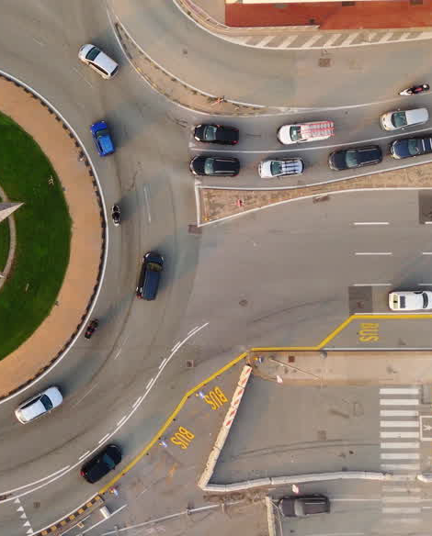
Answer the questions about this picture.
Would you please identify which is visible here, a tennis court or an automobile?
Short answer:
automobile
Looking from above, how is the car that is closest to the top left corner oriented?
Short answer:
diagonally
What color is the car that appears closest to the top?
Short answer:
white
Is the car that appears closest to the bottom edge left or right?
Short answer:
right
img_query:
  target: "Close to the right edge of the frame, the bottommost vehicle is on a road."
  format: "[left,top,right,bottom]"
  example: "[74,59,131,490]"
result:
[386,288,432,312]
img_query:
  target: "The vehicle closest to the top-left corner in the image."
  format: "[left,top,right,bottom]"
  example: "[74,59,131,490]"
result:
[77,42,119,81]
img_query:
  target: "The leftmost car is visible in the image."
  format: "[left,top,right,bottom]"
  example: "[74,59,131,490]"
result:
[13,387,63,424]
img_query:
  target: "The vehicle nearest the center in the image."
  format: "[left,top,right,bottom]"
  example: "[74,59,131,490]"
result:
[134,250,163,302]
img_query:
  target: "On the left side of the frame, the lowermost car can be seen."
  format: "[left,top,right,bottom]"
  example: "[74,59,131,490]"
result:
[76,444,123,482]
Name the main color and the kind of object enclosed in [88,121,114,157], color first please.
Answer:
blue car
